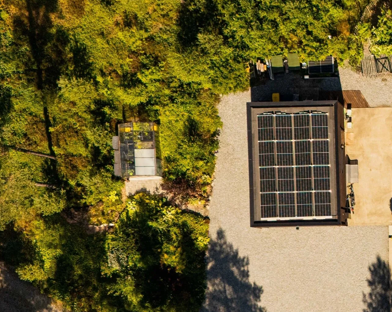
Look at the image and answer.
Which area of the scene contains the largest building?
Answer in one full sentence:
The largest building appears toward the right of the photo.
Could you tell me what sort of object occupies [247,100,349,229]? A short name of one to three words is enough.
building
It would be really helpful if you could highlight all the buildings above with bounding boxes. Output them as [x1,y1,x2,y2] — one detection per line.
[247,100,349,229]
[117,117,163,174]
